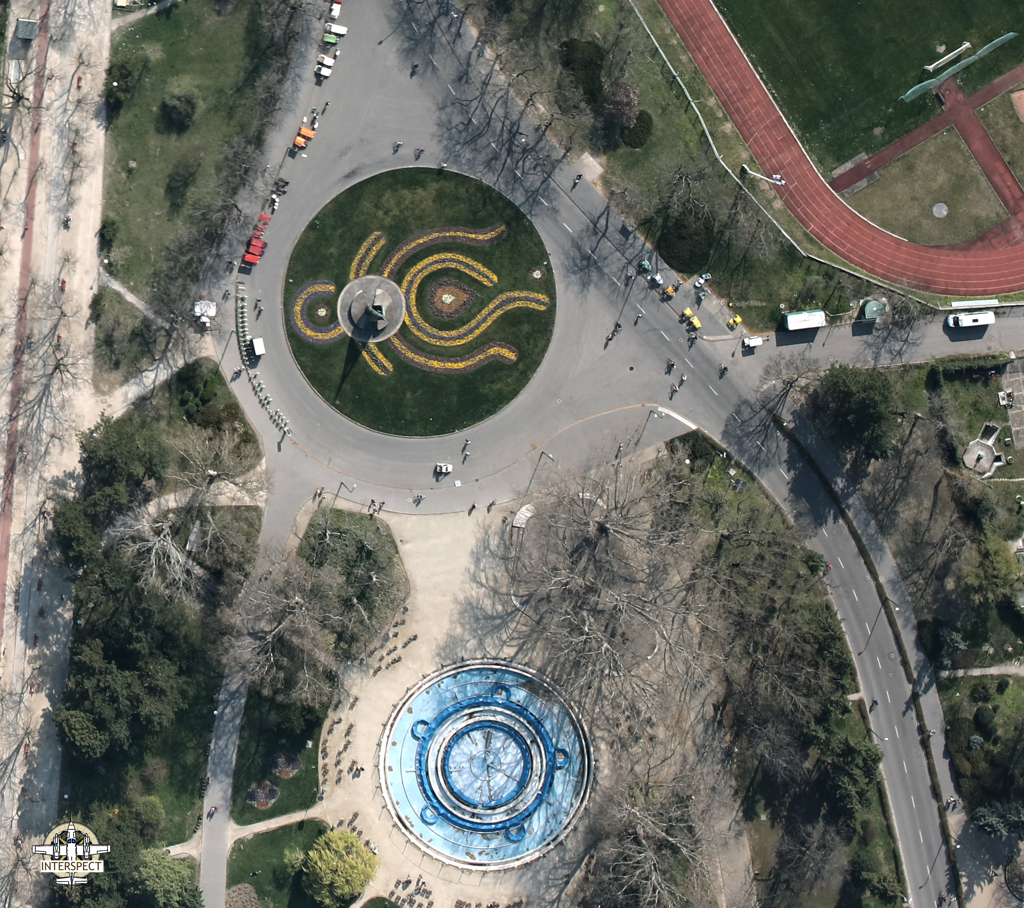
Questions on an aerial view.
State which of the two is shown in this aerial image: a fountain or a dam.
fountain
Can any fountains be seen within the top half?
No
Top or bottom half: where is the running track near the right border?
top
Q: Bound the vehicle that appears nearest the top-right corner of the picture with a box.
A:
[946,309,993,328]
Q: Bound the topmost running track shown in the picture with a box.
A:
[658,0,1024,296]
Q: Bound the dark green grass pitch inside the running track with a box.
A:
[711,0,1024,245]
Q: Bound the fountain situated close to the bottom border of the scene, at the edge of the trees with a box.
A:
[380,658,594,872]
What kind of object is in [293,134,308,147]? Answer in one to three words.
vehicle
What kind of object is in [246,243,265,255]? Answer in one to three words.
vehicle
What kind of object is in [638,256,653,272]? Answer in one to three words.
car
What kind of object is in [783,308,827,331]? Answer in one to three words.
trailer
